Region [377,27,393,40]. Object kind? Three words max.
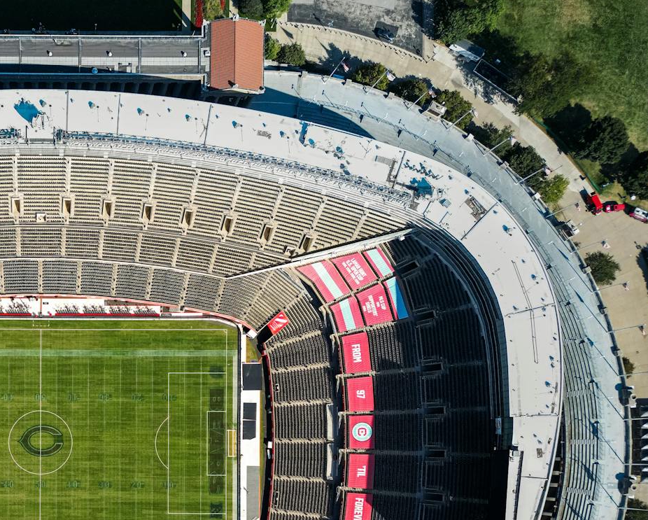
vehicle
